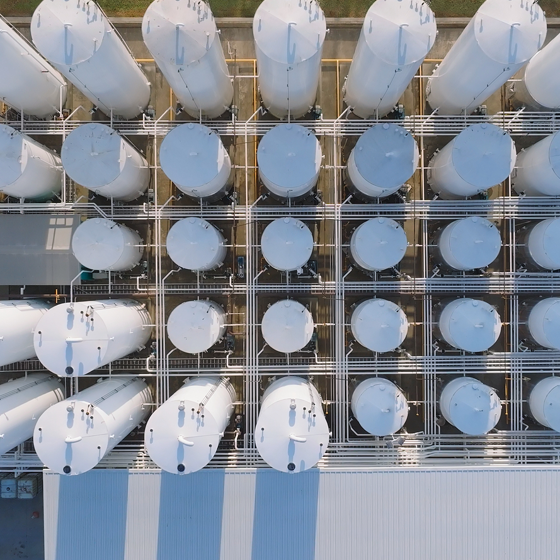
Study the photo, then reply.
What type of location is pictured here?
industrial area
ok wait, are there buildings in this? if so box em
[42,466,560,560]
[0,214,88,292]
